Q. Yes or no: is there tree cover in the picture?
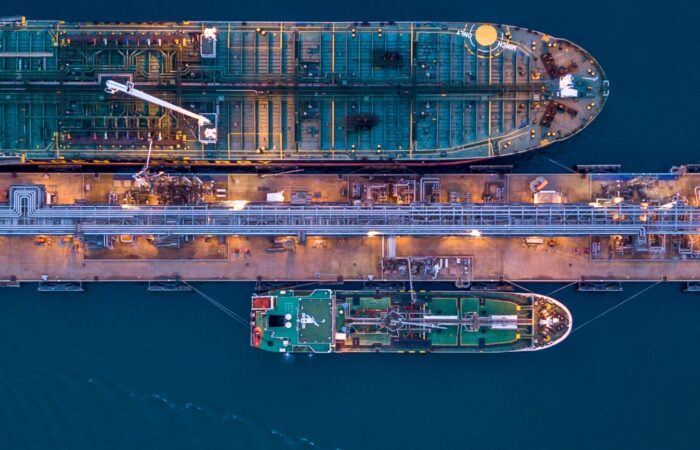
No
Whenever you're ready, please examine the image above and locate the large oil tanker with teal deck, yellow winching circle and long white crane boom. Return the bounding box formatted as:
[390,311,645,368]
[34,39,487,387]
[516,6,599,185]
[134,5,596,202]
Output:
[0,15,610,164]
